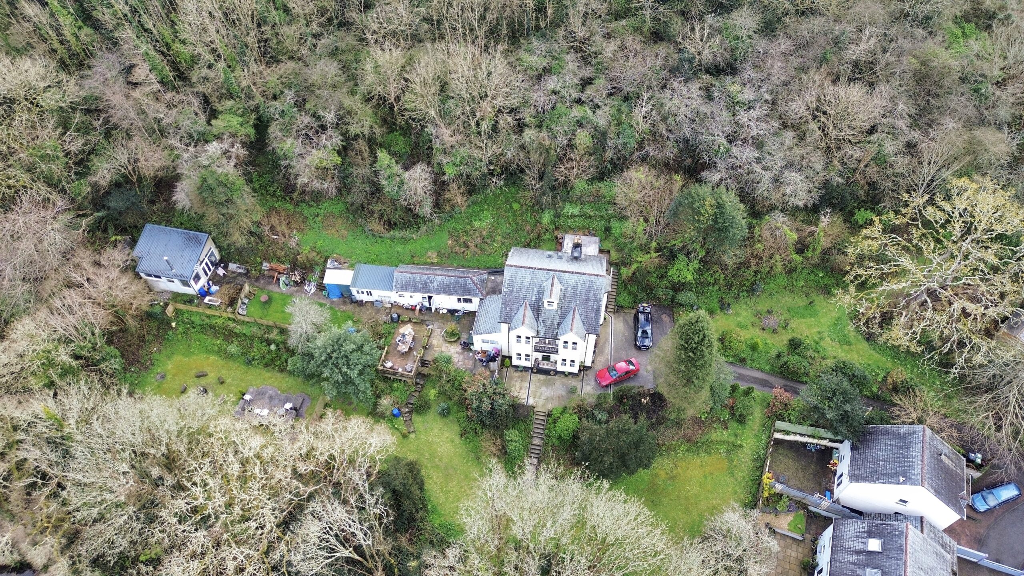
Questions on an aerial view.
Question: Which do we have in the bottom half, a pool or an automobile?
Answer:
automobile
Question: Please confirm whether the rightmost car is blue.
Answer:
Yes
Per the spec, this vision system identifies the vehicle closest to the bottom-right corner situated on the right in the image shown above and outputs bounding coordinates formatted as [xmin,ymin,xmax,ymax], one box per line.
[967,482,1024,516]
